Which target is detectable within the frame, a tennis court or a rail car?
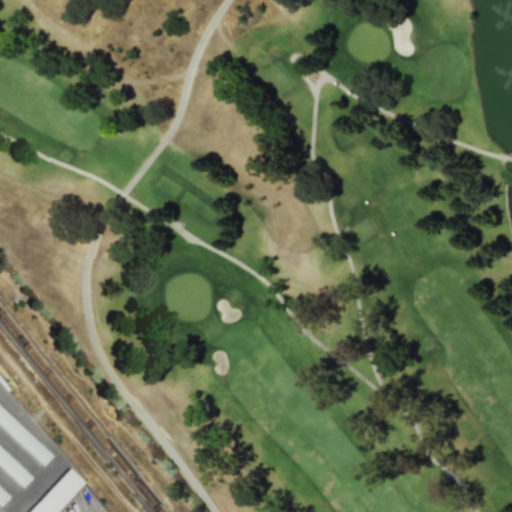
rail car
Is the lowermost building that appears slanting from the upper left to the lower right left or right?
left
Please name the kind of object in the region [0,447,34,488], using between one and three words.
building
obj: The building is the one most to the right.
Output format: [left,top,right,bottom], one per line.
[34,469,86,512]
